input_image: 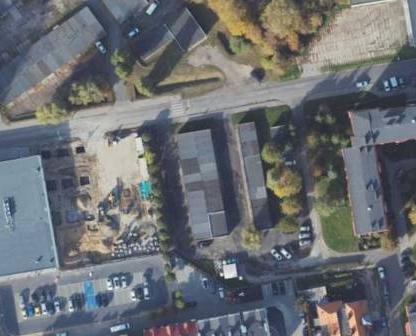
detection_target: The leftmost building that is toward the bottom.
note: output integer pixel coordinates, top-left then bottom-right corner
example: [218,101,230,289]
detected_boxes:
[0,155,60,278]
